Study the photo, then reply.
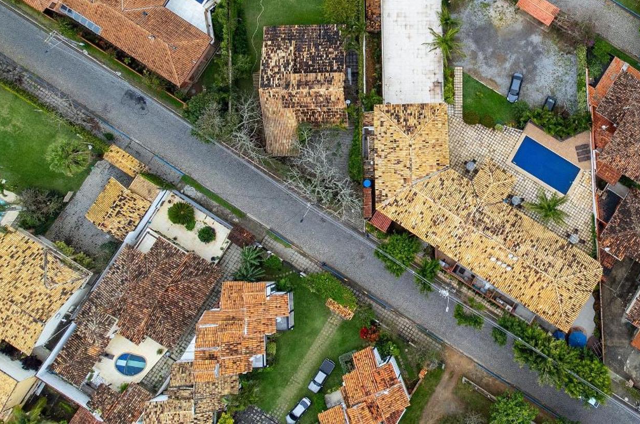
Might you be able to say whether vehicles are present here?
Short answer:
Yes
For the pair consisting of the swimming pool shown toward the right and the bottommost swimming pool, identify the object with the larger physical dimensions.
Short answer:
the swimming pool shown toward the right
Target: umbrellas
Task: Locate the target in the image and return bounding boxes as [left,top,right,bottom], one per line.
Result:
[553,328,567,340]
[568,329,586,347]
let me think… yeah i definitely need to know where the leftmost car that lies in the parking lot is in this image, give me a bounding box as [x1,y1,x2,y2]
[508,73,523,103]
